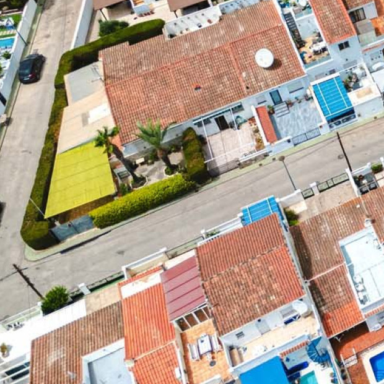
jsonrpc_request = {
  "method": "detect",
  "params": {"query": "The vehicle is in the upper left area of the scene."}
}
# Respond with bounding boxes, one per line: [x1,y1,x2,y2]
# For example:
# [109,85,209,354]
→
[16,57,48,82]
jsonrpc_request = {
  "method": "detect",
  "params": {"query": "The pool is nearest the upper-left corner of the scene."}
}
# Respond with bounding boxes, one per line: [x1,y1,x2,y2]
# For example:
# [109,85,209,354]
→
[0,35,17,51]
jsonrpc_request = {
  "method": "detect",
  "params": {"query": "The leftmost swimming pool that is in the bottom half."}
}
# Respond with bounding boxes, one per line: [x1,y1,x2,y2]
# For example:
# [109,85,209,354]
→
[295,368,323,384]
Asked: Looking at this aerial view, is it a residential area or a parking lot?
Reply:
residential area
